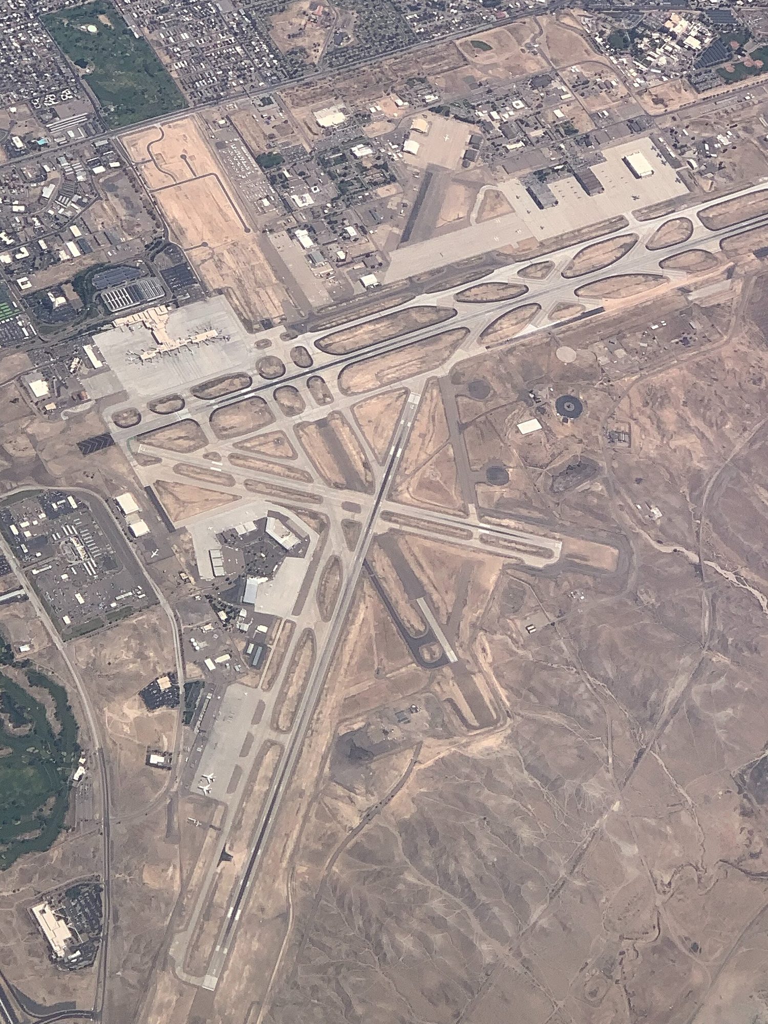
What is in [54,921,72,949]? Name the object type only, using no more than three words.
building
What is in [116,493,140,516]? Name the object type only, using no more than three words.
hangar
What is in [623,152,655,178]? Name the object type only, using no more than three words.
hangar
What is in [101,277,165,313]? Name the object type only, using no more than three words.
building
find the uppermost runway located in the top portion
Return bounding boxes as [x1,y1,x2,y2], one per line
[112,218,768,441]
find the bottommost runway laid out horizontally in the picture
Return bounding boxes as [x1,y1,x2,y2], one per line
[139,448,562,550]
